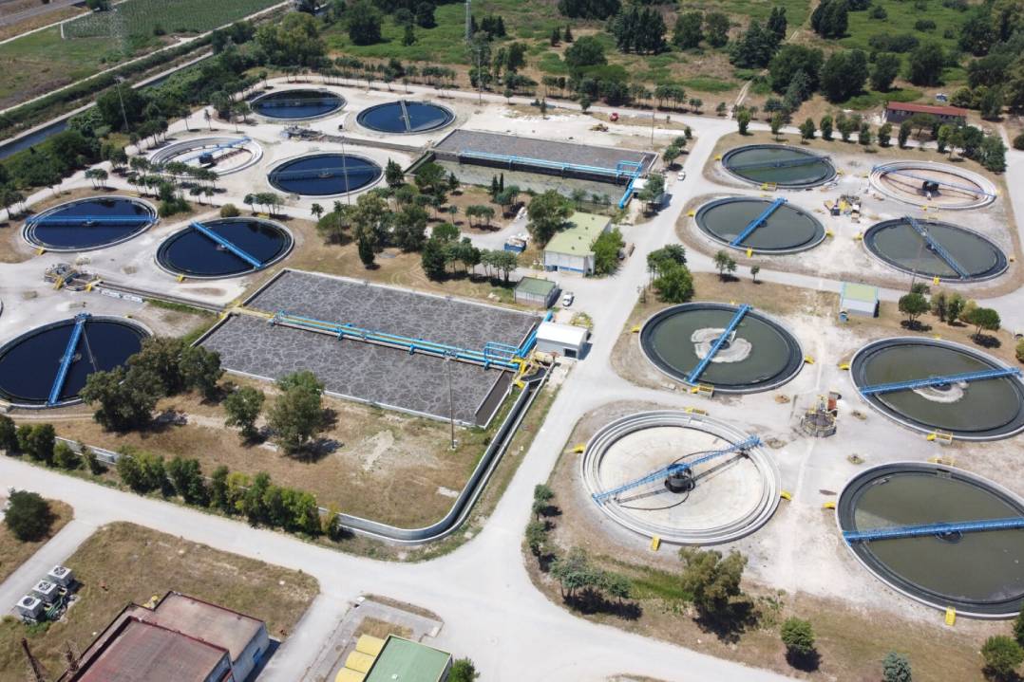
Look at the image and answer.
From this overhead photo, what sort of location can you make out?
industrial area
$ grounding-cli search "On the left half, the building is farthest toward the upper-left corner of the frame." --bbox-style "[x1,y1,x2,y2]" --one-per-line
[32,259,97,291]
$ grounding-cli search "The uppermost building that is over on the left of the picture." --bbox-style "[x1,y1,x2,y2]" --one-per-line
[278,124,322,141]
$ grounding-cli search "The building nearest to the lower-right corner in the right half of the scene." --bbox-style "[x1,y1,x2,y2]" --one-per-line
[798,391,838,439]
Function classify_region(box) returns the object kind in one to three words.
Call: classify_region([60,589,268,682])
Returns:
building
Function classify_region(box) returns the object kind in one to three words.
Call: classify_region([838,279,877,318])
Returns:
shed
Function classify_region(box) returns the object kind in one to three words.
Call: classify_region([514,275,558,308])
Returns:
shed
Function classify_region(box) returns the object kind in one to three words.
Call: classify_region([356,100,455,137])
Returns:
storage tank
